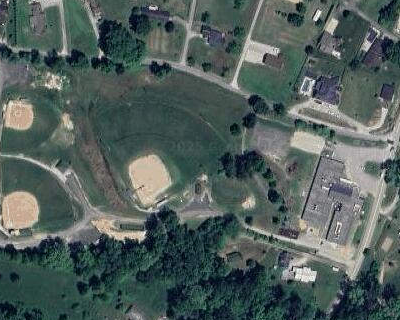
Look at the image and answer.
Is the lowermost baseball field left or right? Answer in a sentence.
The lowermost baseball field is on the left side of the image.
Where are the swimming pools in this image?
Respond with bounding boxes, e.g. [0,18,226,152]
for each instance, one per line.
[300,77,314,95]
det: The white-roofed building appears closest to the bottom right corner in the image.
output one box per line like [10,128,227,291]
[294,266,319,283]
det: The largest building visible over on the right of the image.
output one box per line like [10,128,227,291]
[300,156,361,245]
